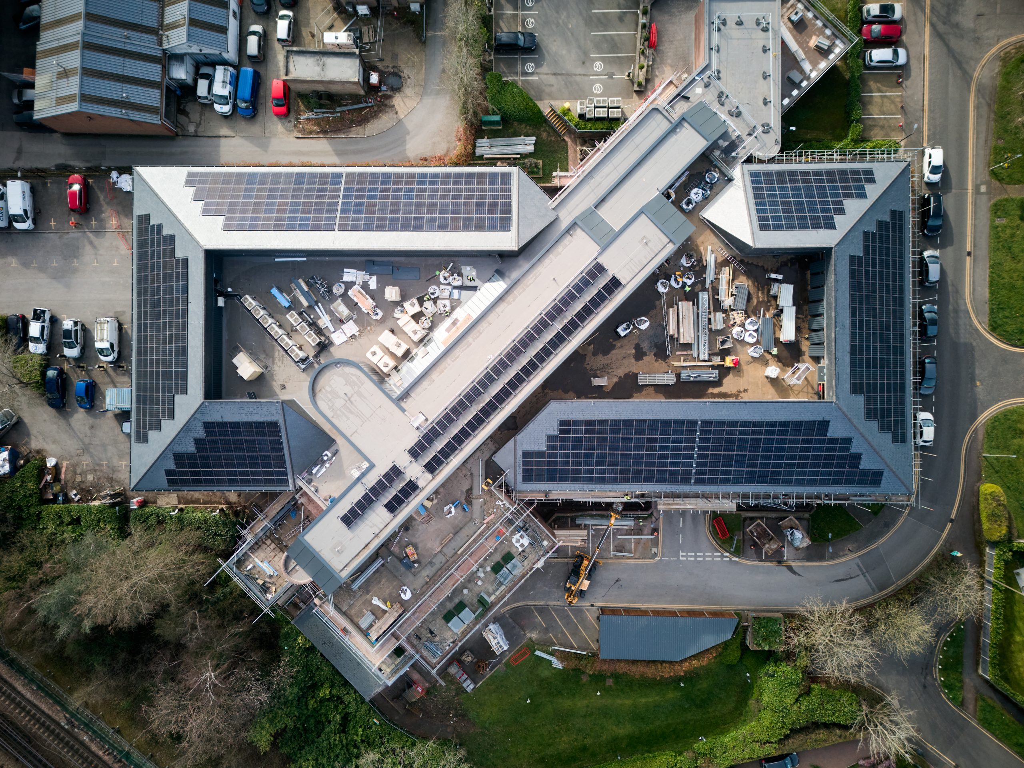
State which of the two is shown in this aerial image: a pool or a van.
van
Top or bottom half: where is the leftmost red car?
top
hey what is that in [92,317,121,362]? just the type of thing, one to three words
van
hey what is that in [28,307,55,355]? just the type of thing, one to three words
truck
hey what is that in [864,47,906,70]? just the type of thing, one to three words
car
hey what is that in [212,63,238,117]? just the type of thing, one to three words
vehicle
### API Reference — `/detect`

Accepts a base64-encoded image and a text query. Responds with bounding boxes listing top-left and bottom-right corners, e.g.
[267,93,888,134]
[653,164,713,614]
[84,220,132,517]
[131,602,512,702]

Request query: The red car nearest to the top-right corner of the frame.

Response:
[861,22,904,47]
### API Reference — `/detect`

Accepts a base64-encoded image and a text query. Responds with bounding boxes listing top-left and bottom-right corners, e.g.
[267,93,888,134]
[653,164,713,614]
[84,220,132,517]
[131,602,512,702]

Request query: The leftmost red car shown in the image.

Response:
[65,174,91,215]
